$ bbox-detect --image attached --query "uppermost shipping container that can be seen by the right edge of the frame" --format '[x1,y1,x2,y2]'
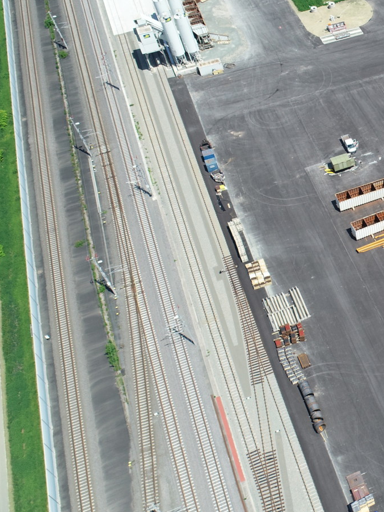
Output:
[334,177,384,210]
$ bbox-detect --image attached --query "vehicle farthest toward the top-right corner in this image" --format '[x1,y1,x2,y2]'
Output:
[339,134,358,151]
